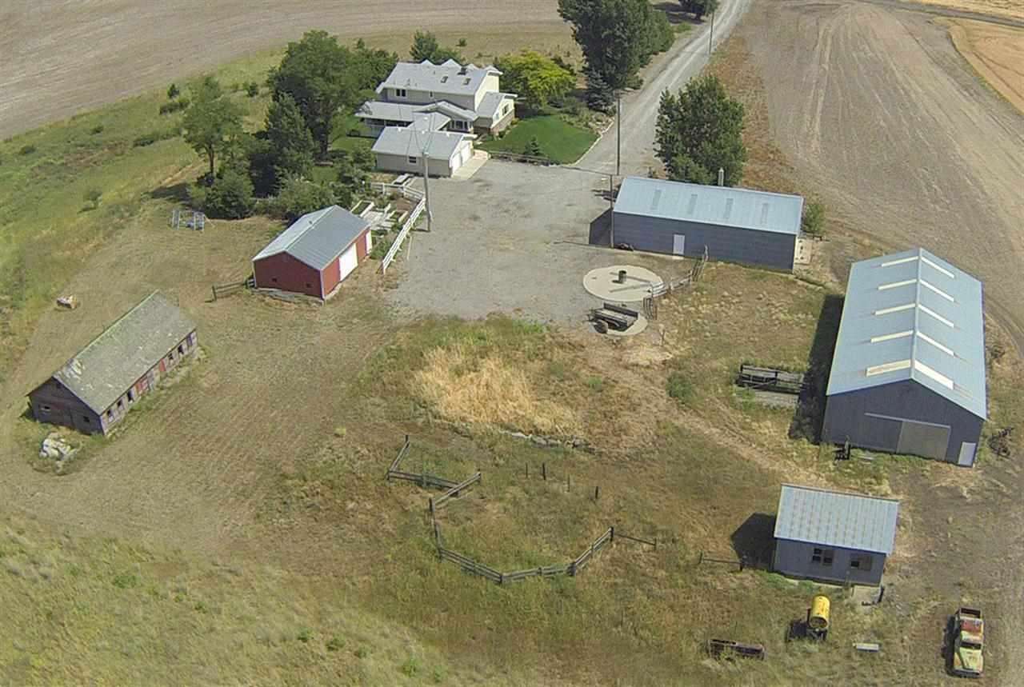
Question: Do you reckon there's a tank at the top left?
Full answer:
No, no tank can be made out at the top left.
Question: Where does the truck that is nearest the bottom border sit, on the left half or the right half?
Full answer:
It is on the right.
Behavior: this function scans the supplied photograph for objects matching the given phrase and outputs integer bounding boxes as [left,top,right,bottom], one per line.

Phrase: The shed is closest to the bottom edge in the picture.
[771,483,897,589]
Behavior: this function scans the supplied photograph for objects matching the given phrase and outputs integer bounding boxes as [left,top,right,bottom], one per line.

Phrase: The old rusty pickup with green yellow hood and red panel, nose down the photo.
[951,601,991,676]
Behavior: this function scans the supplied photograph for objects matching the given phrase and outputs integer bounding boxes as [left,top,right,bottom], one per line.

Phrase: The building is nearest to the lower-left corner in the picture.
[25,292,199,435]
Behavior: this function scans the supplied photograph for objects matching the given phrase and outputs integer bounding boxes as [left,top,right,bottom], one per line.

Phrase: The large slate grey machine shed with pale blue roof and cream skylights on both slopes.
[821,248,987,469]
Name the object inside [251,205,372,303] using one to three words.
barn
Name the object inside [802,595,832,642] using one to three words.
storage tank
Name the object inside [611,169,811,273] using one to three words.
shed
